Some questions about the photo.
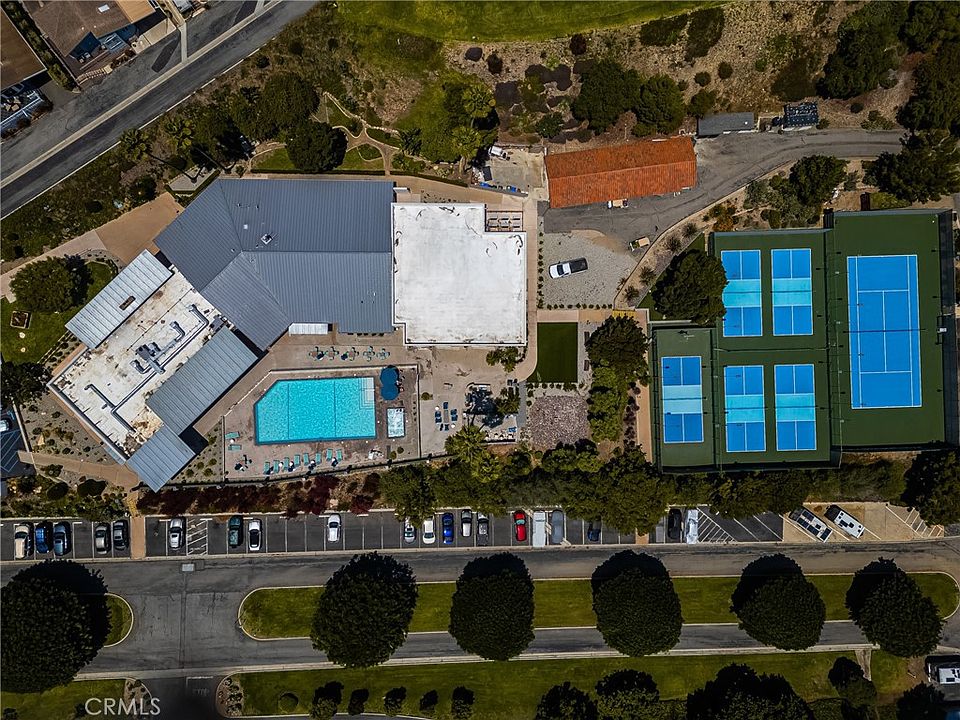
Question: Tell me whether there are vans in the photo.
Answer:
Yes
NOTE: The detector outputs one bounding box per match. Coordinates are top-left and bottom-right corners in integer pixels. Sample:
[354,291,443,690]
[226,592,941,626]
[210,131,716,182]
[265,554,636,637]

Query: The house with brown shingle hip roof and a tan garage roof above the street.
[25,0,165,64]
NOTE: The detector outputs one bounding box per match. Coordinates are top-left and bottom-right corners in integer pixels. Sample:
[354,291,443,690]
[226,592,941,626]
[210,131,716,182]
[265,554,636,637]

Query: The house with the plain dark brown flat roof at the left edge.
[0,3,56,126]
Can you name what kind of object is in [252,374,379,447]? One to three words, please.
swimming pool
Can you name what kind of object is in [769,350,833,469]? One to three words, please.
sports court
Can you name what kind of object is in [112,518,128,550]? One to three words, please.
car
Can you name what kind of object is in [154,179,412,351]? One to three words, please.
building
